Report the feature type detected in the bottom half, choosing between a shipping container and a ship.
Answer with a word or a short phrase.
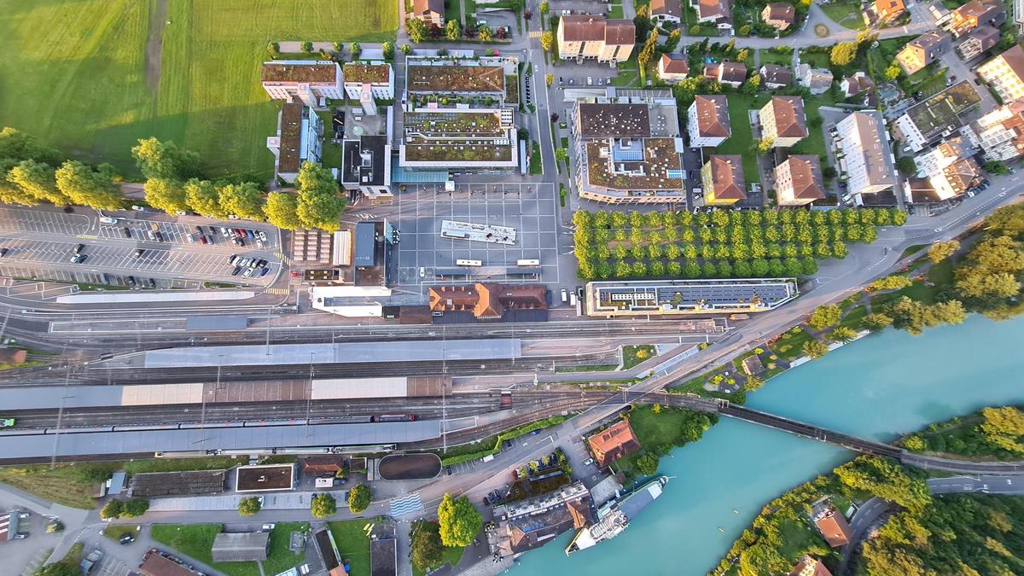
ship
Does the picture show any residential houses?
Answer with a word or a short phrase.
Yes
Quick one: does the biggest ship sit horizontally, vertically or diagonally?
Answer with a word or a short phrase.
diagonally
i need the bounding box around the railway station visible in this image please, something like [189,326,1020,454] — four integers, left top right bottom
[429,283,552,324]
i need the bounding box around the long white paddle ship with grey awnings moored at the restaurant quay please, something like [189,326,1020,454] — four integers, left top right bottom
[566,476,673,554]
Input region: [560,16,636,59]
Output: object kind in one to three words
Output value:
building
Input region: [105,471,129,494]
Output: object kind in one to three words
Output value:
shed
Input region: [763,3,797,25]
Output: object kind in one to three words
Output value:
house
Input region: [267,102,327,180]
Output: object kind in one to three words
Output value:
building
